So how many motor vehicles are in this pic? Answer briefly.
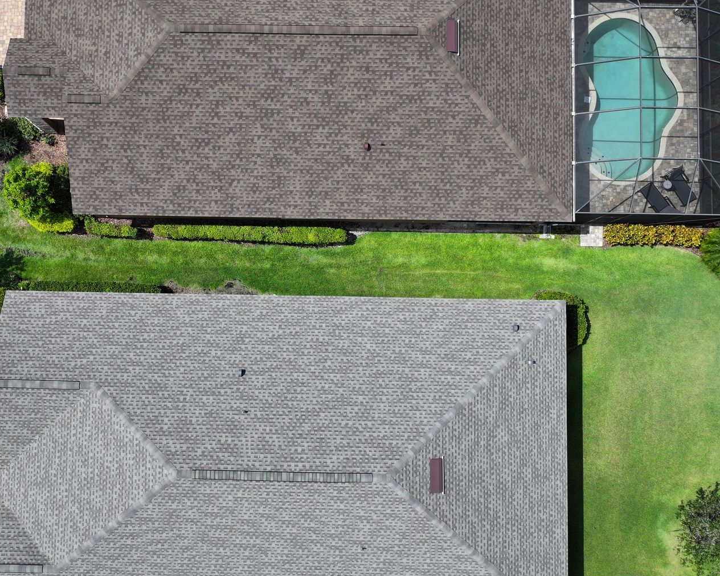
0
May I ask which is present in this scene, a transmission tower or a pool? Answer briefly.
pool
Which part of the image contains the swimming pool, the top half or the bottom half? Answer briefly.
top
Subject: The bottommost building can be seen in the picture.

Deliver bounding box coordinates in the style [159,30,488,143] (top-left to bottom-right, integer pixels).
[0,291,568,576]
